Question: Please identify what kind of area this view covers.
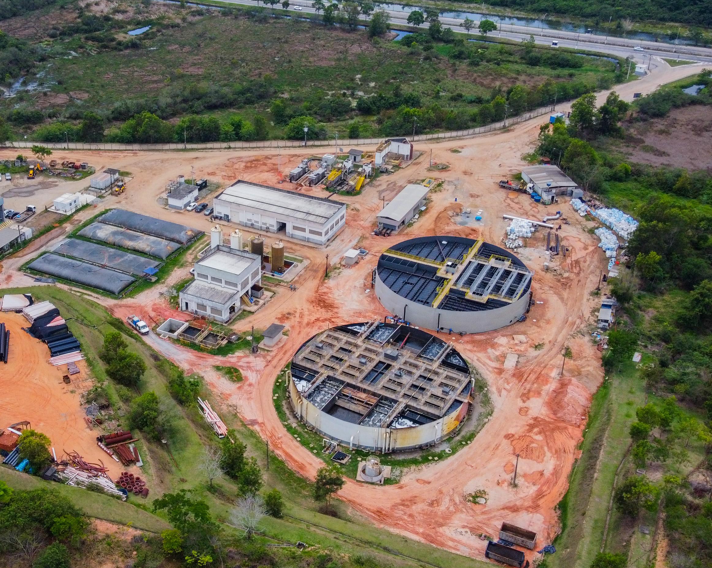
industrial area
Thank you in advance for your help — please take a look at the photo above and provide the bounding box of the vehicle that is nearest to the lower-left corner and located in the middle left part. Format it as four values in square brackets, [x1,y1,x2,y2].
[125,310,150,331]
